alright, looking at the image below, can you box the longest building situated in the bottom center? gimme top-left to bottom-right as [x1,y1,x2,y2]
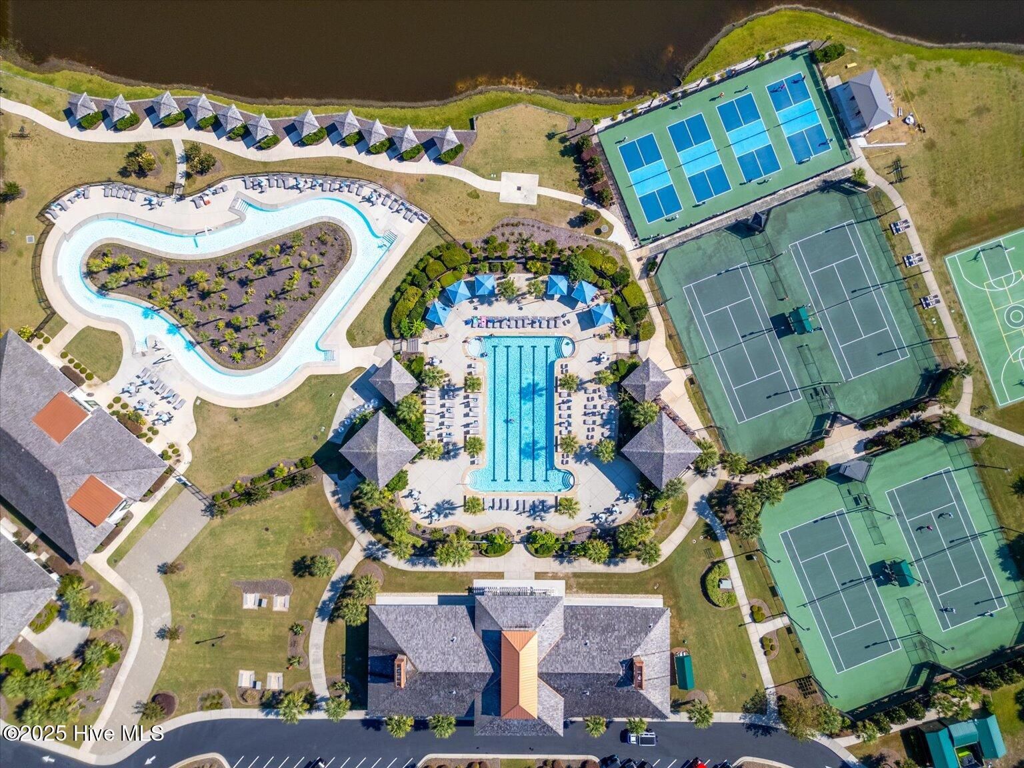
[368,594,670,736]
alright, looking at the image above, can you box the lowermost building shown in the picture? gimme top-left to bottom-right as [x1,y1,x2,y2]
[918,709,1007,768]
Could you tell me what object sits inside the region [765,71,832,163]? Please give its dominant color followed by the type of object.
blue sports court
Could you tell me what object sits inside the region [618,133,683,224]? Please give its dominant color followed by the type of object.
blue sports court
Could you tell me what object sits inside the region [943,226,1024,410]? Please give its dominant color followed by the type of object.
green basketball court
